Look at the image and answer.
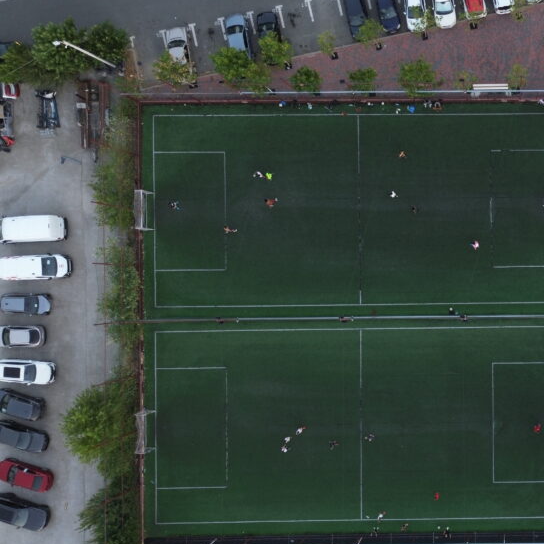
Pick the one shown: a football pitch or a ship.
football pitch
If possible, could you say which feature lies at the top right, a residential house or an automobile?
automobile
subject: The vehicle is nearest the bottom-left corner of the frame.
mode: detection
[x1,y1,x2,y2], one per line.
[0,495,52,529]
